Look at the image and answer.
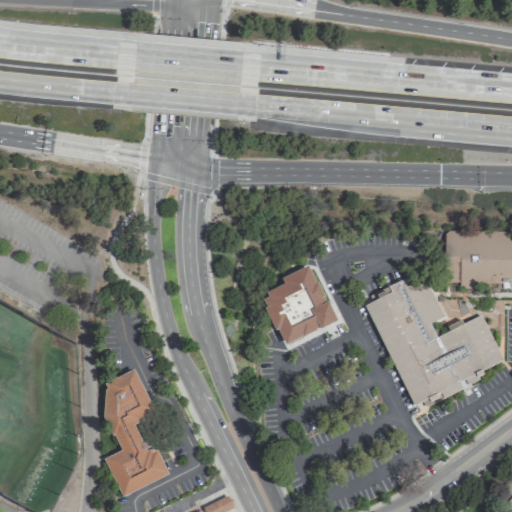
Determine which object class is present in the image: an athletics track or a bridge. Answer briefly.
bridge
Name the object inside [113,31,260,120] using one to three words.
bridge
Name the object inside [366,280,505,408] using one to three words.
building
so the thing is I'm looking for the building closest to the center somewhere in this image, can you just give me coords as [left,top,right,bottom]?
[266,266,339,344]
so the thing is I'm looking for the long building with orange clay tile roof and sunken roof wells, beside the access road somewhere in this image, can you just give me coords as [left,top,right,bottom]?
[105,370,169,496]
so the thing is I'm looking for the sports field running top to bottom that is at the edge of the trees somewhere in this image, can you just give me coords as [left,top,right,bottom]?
[0,302,80,512]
